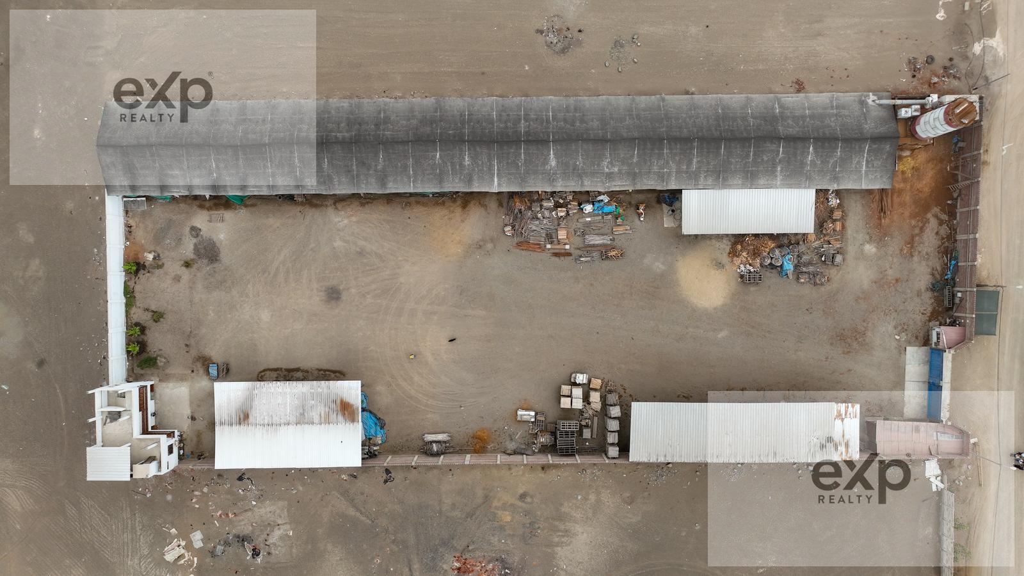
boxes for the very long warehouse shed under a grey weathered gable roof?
[96,92,900,194]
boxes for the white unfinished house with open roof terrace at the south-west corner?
[86,377,189,481]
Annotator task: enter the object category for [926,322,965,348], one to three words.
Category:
shed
